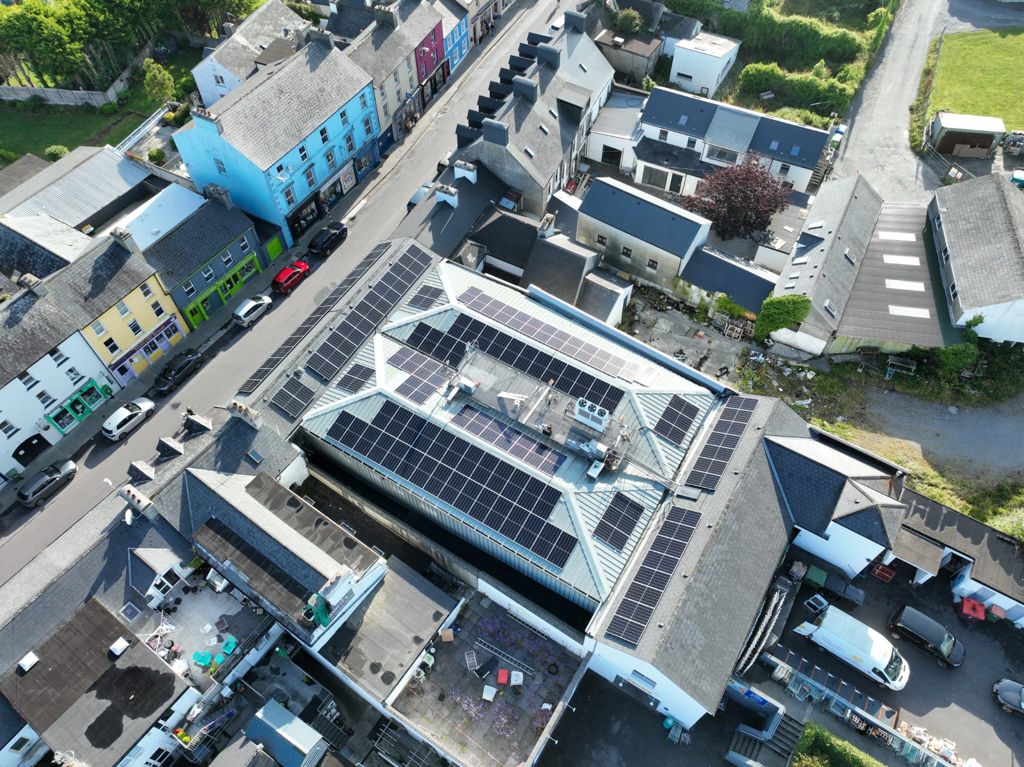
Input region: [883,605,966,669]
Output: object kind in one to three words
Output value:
car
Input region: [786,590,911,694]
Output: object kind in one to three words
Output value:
van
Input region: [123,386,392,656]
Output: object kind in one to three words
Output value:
house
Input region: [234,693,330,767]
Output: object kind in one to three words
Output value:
shed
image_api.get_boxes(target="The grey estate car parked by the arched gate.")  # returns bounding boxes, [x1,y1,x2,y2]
[10,458,81,515]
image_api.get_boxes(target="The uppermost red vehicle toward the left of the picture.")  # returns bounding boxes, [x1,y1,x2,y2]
[268,262,312,299]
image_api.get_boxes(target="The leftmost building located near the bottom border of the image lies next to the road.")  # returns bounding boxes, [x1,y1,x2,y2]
[0,488,214,767]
